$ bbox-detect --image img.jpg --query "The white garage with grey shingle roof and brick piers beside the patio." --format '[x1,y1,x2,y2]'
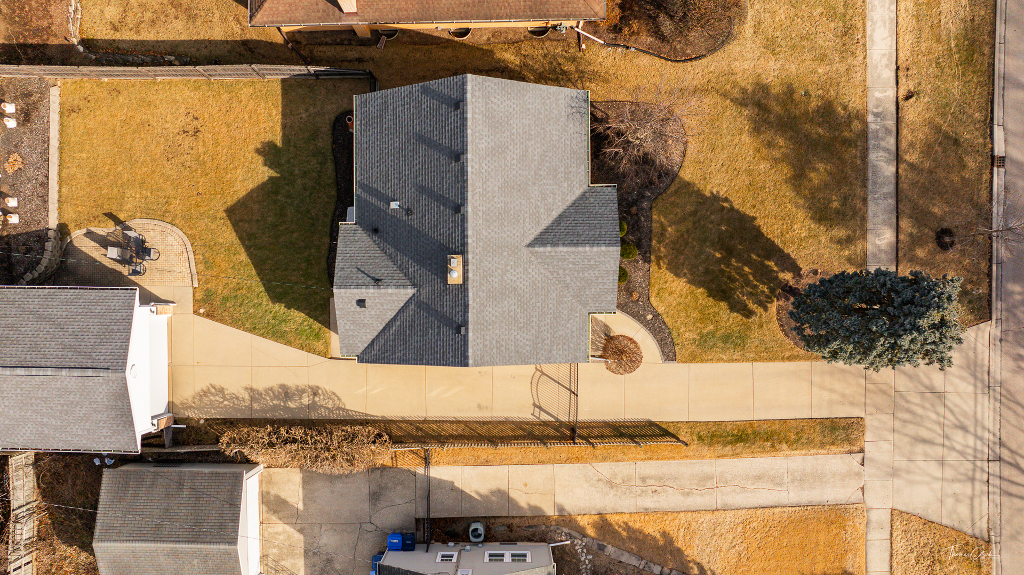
[0,284,185,457]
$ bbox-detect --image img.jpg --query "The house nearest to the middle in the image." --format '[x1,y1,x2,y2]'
[332,73,621,367]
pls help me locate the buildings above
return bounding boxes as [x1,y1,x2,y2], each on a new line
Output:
[332,73,621,367]
[246,0,608,61]
[91,462,262,575]
[0,284,185,457]
[372,542,570,575]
